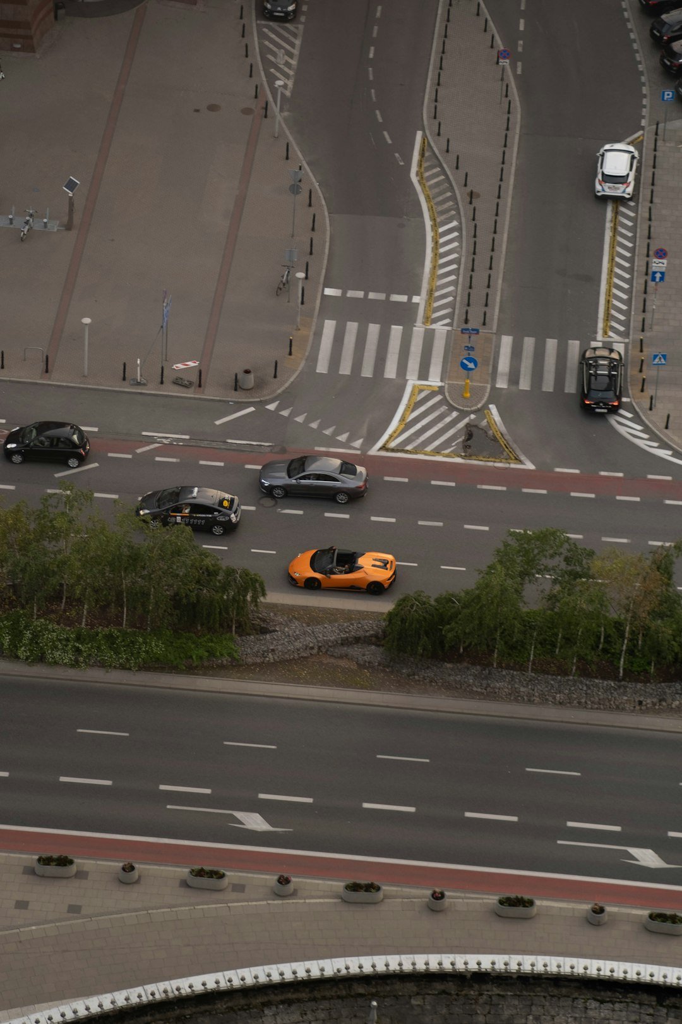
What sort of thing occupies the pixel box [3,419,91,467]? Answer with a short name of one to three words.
car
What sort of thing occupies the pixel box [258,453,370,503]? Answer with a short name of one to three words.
car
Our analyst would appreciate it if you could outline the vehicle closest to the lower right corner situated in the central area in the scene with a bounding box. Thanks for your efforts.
[291,543,399,595]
